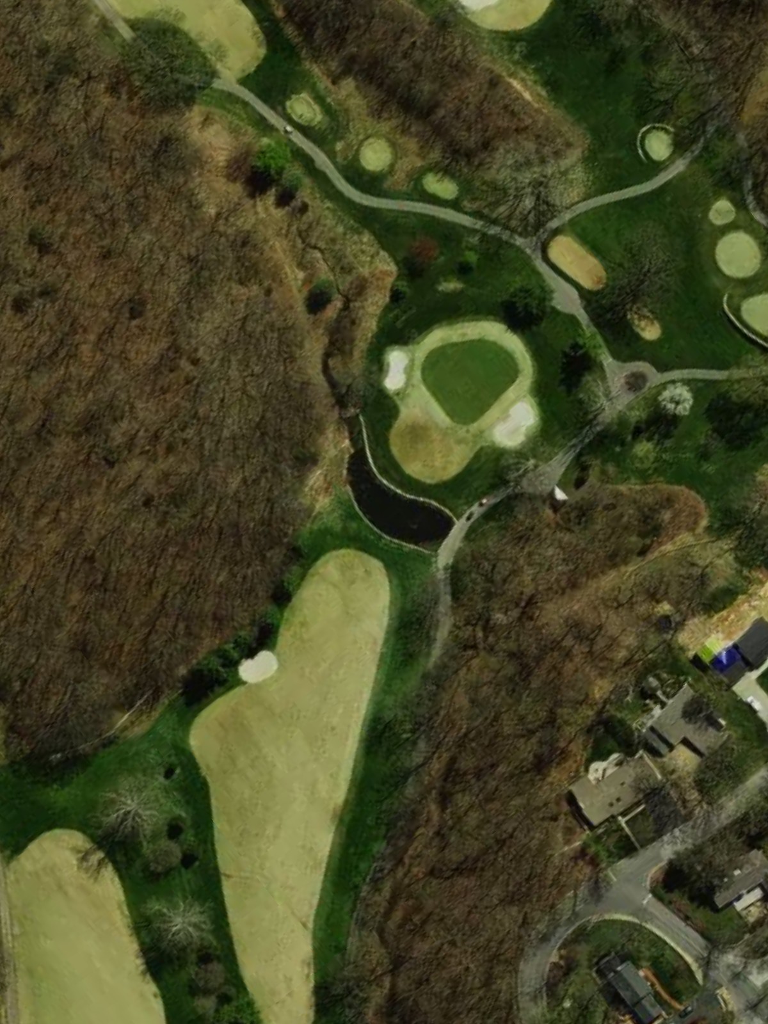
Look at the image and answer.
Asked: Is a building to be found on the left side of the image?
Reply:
No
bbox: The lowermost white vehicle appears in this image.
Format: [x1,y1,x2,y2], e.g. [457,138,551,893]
[746,695,763,712]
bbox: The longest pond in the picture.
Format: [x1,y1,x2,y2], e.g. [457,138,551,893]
[343,414,454,551]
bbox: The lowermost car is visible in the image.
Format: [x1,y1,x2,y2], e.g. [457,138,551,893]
[677,1004,694,1018]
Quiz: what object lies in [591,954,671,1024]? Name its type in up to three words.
house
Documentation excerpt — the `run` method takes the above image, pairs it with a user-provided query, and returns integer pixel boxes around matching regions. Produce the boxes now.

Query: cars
[677,1004,694,1018]
[746,695,763,712]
